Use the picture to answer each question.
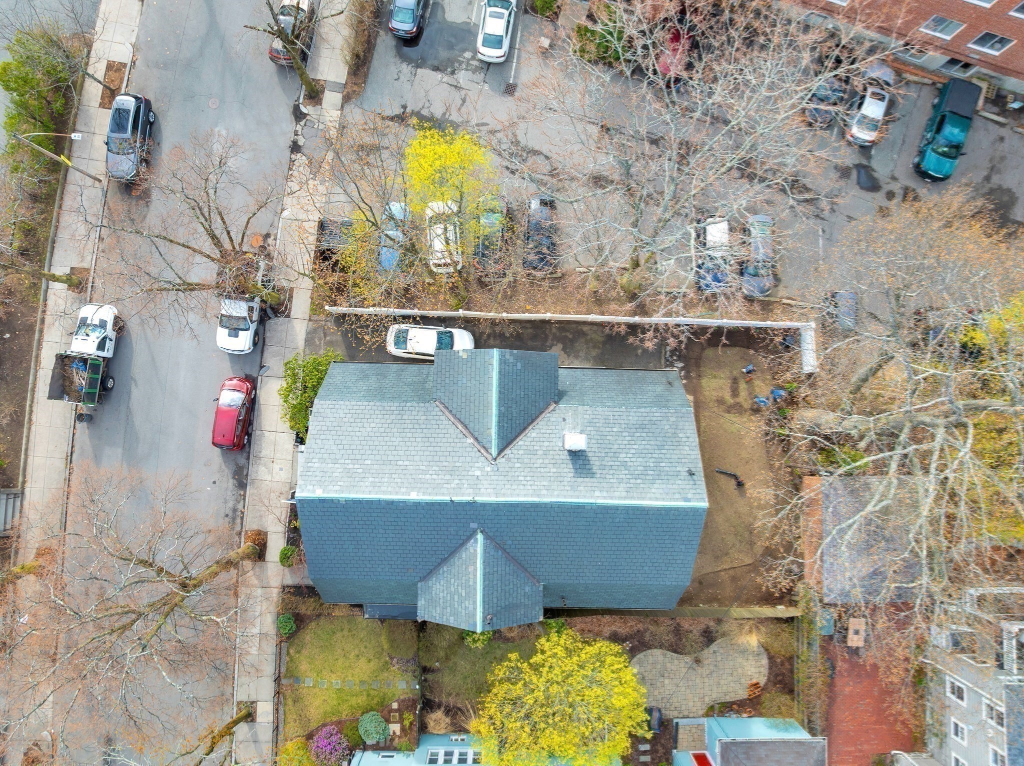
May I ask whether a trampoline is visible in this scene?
No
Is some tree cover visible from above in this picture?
Yes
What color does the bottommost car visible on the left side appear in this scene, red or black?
red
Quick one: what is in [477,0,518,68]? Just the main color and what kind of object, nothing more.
white car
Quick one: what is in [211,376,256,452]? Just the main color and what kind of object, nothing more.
red car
